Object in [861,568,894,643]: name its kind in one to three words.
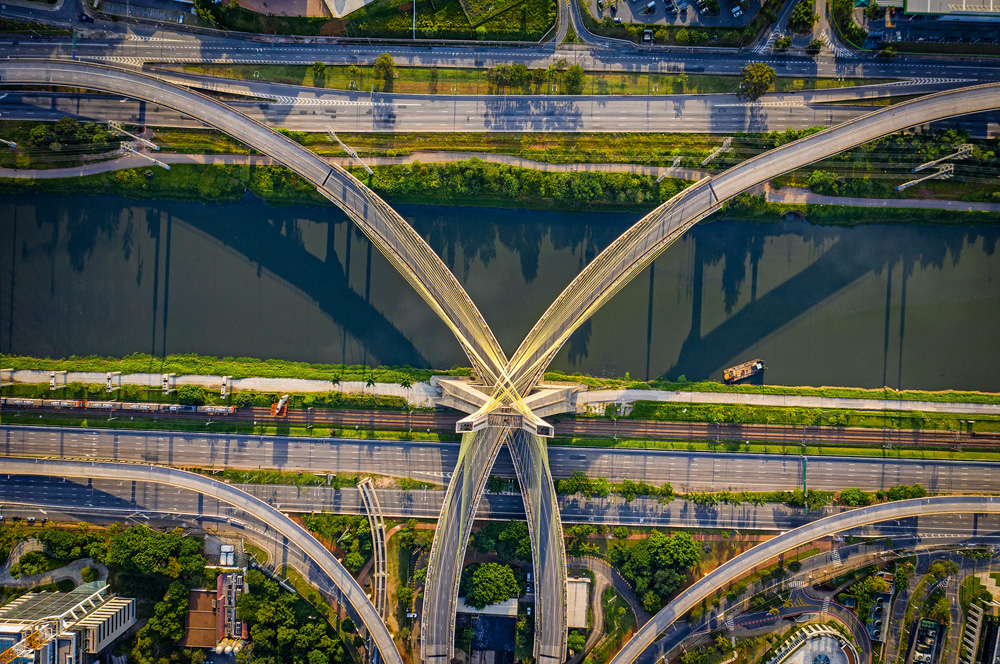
house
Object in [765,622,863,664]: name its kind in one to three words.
building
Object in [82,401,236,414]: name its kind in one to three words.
train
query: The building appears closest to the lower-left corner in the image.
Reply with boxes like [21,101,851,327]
[0,574,135,664]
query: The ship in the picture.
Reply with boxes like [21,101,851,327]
[726,356,765,382]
